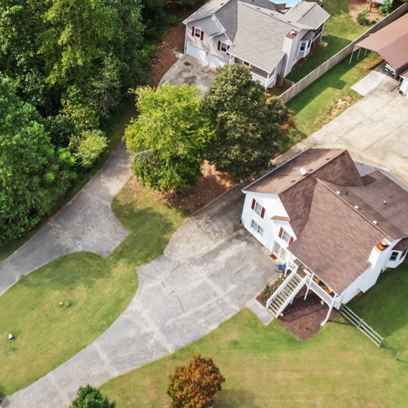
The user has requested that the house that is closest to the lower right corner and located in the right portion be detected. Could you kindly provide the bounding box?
[241,147,408,325]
